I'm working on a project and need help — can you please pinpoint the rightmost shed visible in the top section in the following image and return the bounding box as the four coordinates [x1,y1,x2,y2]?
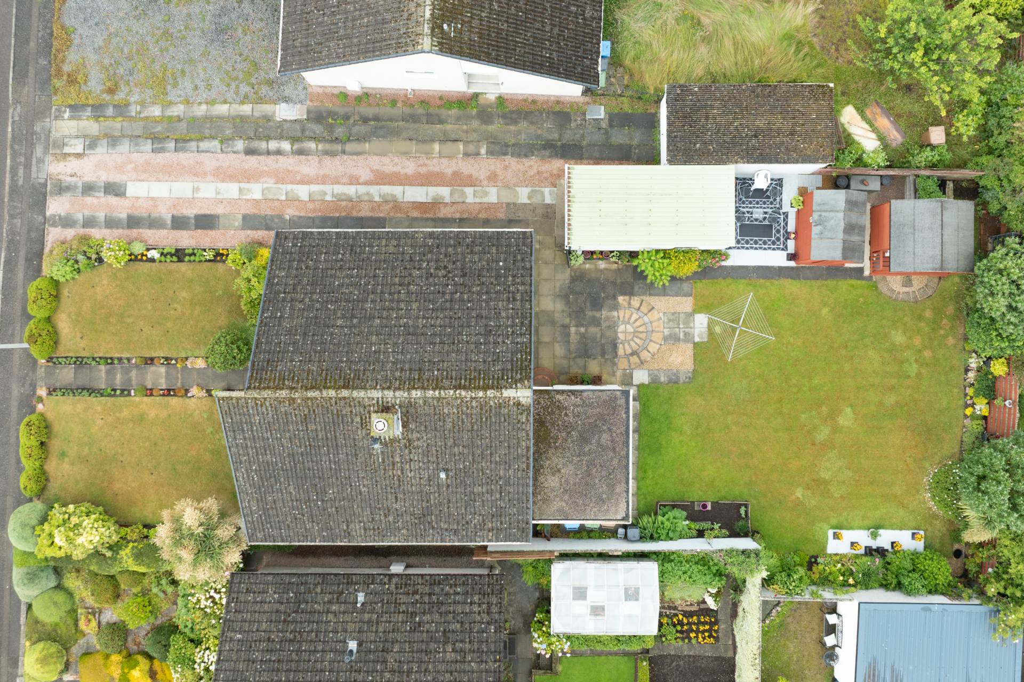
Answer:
[871,196,975,274]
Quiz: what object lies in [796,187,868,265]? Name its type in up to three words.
shed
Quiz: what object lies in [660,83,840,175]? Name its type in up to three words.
building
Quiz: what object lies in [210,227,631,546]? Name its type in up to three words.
house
